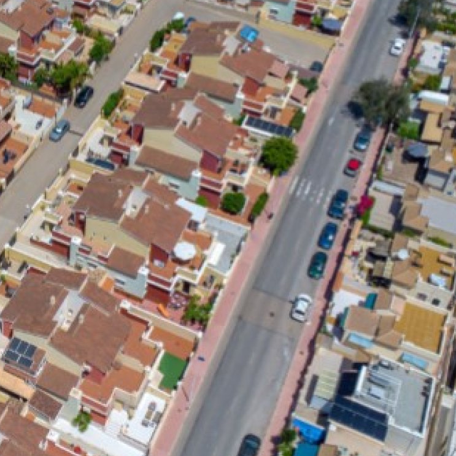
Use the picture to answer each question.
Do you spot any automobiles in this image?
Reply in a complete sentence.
Yes, an automobile appears in the view.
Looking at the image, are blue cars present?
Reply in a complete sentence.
Yes, a blue car is visible in the scene.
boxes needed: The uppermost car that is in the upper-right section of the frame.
[389,39,404,55]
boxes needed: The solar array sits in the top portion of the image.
[249,117,289,137]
